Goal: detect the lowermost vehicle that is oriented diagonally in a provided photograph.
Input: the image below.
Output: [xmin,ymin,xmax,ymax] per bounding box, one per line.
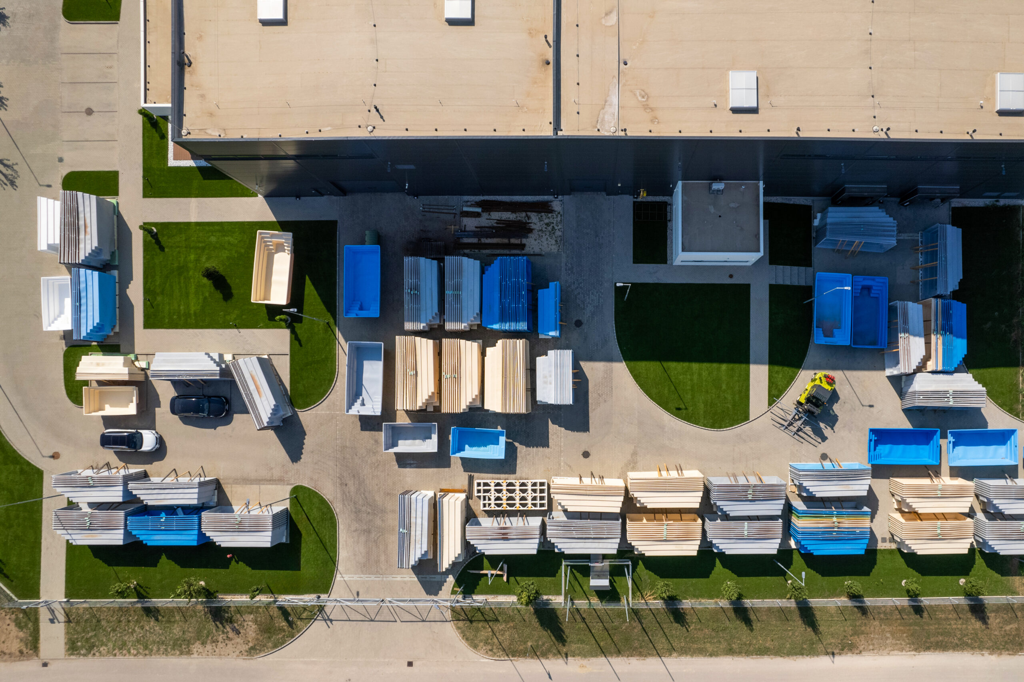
[788,369,839,432]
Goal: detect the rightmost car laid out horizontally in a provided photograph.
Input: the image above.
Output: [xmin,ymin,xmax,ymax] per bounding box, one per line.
[169,392,232,421]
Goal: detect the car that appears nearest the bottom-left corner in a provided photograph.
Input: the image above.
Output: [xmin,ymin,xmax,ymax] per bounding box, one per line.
[95,426,163,455]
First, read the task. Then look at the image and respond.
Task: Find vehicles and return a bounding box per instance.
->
[169,392,232,421]
[788,369,839,432]
[95,426,163,455]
